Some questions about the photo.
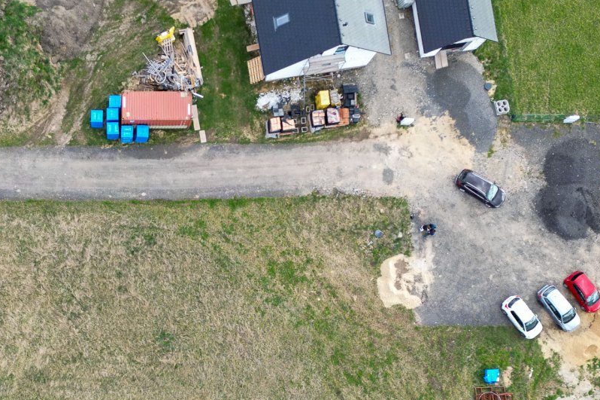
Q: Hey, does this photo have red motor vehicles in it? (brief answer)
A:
Yes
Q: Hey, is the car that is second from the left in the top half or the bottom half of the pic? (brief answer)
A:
bottom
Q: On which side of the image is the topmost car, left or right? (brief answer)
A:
right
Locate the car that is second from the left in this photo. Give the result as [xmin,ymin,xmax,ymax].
[501,294,542,340]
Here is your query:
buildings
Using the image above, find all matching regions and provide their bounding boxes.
[409,0,499,59]
[247,0,392,84]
